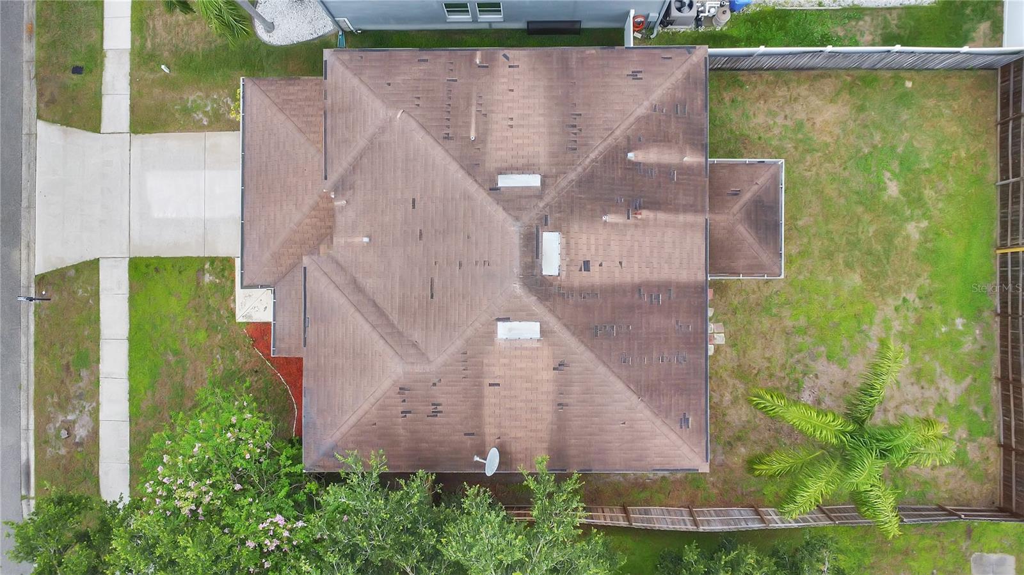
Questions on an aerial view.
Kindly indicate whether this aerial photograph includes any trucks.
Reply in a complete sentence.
No, the photo shows no truck.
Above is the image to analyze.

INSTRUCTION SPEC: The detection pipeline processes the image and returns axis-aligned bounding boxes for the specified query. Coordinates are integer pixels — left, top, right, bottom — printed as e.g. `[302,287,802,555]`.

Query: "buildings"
[240,47,784,473]
[319,0,677,39]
